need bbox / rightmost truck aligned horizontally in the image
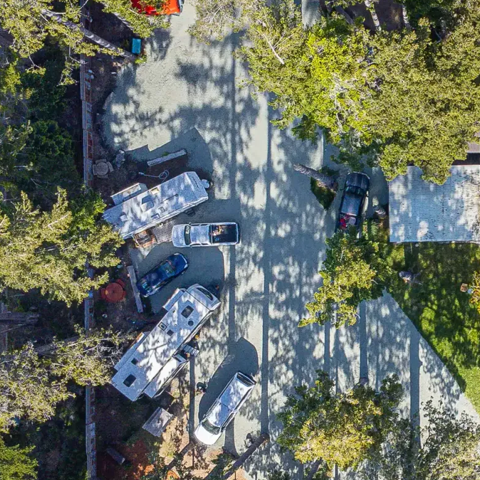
[173,220,241,248]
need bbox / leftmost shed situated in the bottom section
[136,406,172,441]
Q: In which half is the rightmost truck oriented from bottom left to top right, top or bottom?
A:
bottom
